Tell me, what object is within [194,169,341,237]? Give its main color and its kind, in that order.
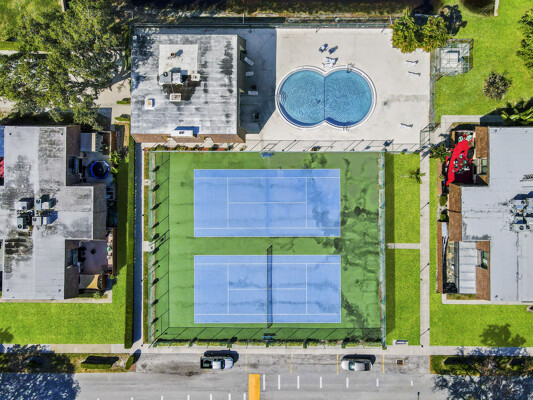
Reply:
blue tennis court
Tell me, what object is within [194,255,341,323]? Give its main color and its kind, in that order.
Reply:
blue tennis court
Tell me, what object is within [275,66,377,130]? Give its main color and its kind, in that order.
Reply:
blue swimming pool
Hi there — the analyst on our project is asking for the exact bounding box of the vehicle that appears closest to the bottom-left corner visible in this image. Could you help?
[200,354,234,370]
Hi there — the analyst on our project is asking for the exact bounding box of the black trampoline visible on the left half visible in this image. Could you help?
[91,159,110,179]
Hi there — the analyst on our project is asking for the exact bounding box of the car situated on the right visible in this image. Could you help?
[341,358,372,373]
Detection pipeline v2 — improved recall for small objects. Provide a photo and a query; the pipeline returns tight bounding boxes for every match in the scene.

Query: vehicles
[341,358,372,373]
[200,354,234,370]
